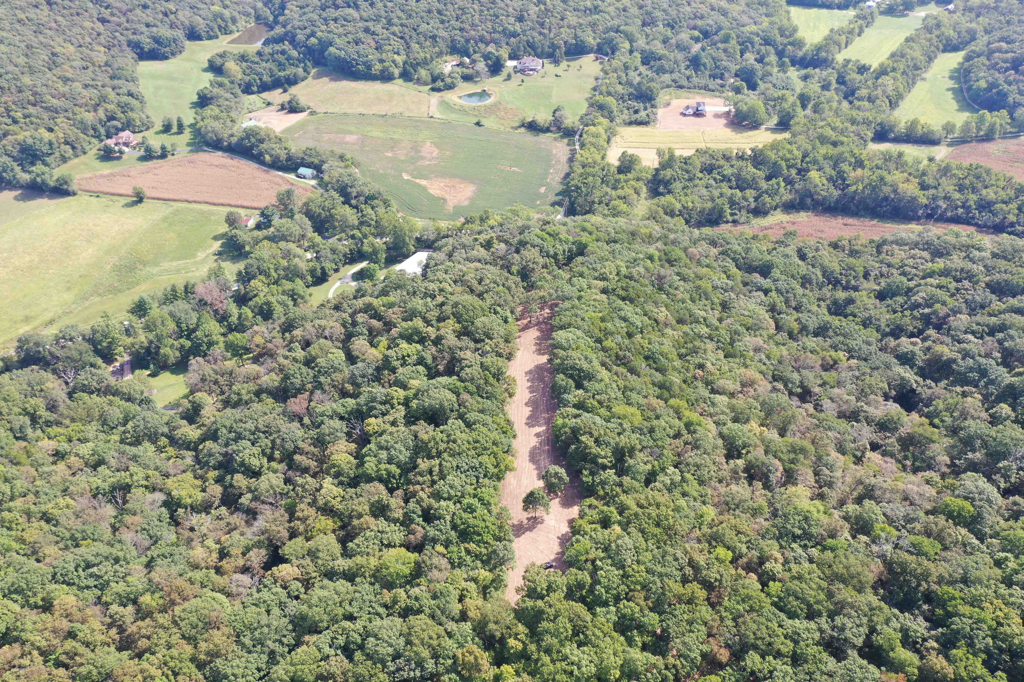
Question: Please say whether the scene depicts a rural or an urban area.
rural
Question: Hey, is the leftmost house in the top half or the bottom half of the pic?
top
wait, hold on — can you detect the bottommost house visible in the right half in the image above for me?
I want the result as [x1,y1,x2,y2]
[682,98,710,116]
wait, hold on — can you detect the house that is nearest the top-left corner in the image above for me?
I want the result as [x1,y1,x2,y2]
[94,125,139,147]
